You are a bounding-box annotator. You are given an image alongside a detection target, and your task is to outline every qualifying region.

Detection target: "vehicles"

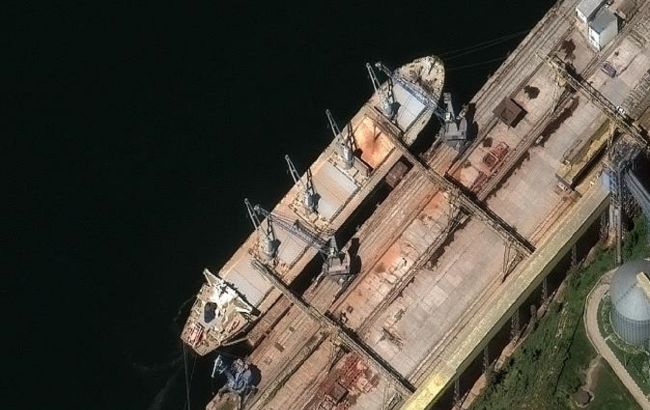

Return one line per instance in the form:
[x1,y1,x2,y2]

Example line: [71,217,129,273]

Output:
[536,136,547,147]
[600,60,618,76]
[555,180,569,192]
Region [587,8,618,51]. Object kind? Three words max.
building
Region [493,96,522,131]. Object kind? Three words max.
shed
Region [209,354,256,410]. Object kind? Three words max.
crane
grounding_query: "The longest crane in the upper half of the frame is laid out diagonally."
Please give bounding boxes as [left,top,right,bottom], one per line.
[377,62,472,167]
